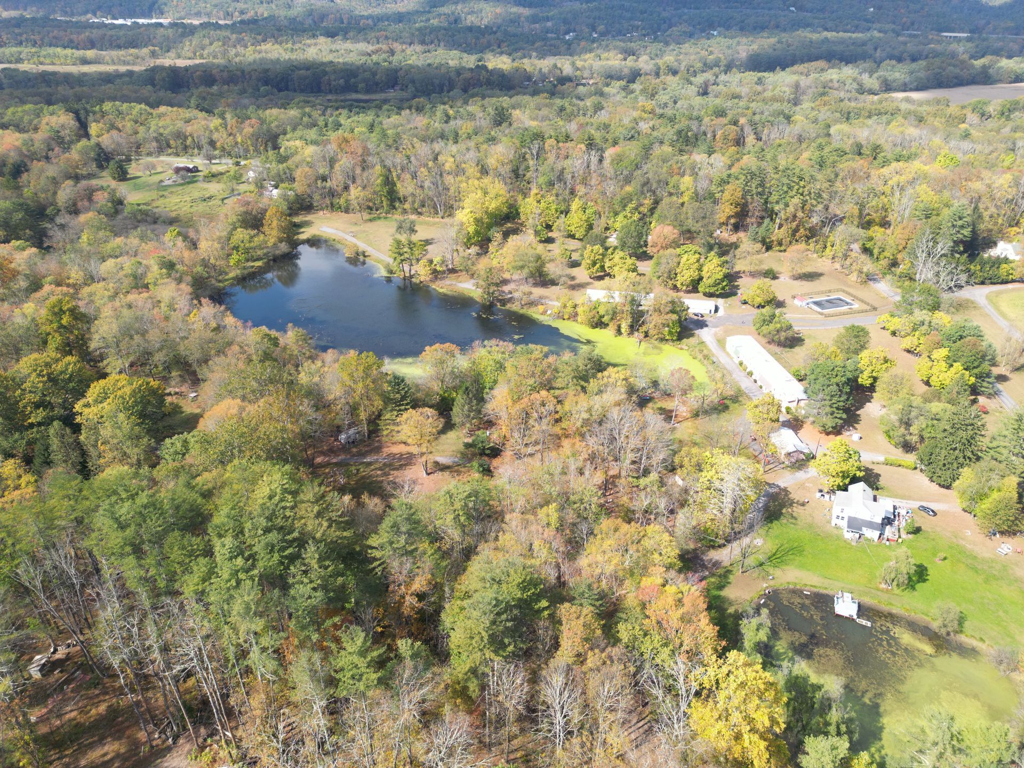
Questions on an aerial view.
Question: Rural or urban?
rural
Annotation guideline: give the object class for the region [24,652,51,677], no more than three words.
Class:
shed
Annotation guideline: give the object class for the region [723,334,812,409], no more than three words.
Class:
building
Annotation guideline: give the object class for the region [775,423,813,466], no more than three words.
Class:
barn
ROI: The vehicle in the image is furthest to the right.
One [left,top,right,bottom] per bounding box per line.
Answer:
[918,503,939,515]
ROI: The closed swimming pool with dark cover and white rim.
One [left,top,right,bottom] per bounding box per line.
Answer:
[809,296,860,313]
